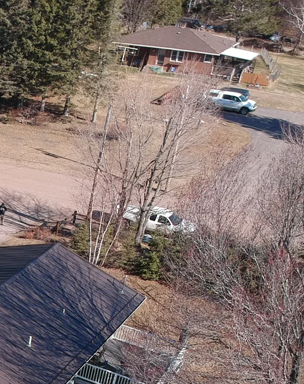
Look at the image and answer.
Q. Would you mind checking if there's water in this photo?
No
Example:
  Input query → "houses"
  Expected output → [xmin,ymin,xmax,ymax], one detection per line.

[112,26,268,86]
[0,241,190,384]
